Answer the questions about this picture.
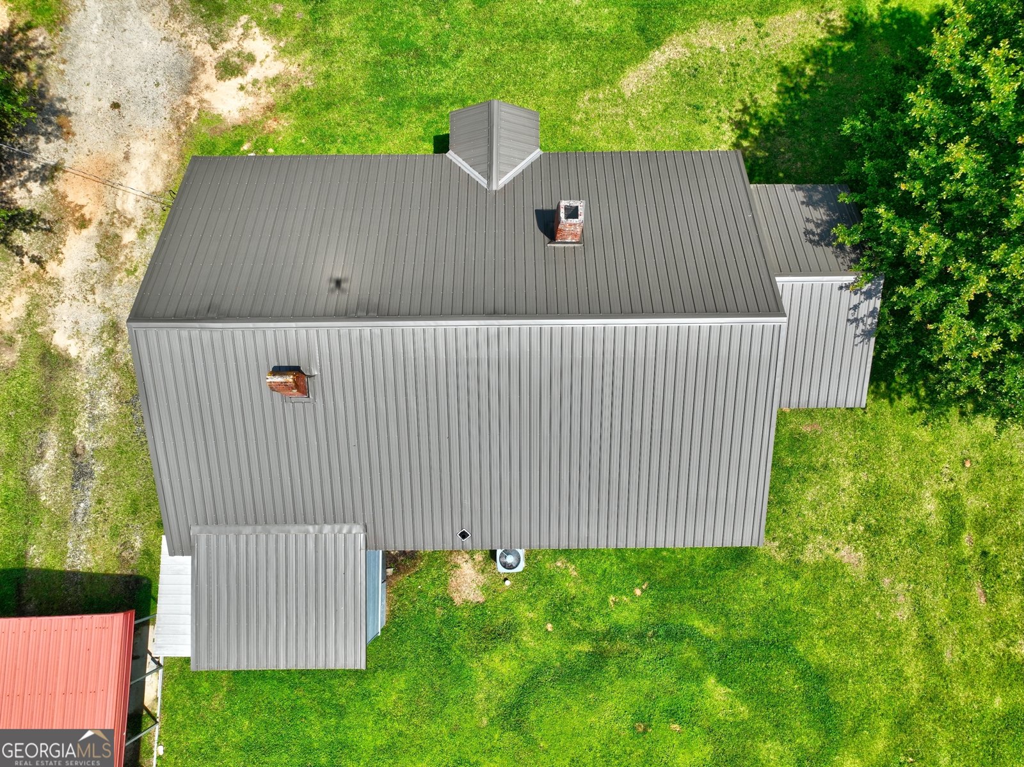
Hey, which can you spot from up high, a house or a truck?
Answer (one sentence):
Visible in the photo is a house.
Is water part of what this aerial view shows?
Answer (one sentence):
No, no water is visible.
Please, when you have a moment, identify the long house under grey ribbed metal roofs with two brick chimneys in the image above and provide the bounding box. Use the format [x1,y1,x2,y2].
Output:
[126,95,882,671]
